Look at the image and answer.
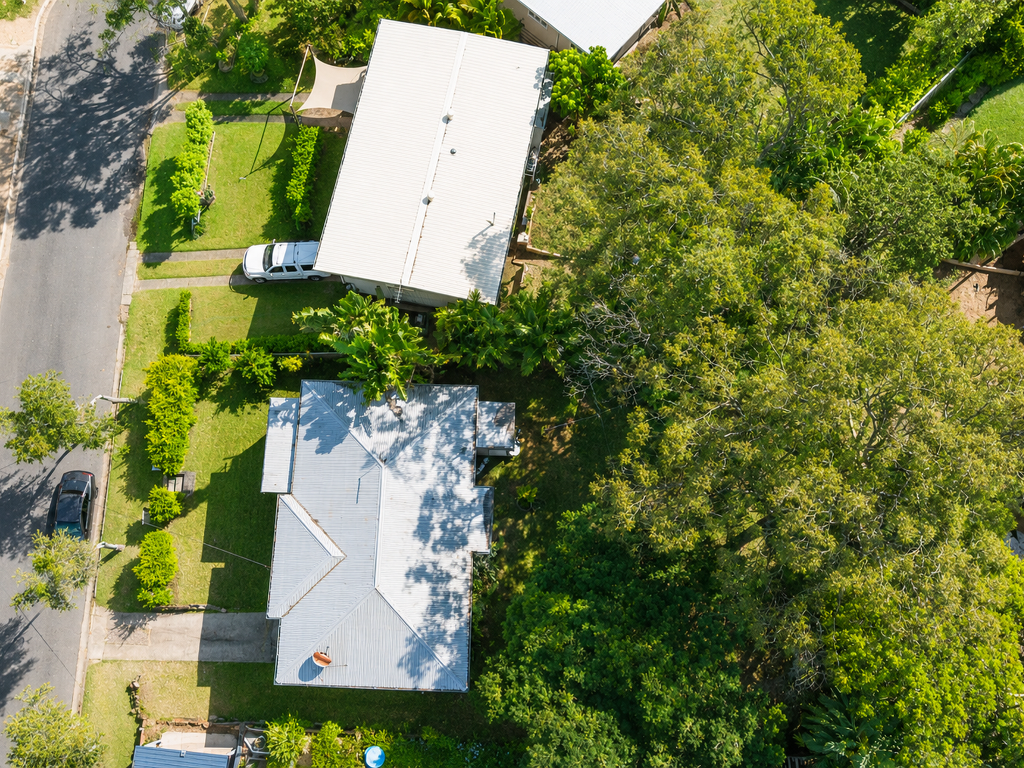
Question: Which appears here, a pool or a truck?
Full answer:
I can see a truck in this picture.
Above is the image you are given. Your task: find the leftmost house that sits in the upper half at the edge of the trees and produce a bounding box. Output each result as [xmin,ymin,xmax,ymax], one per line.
[312,19,555,319]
